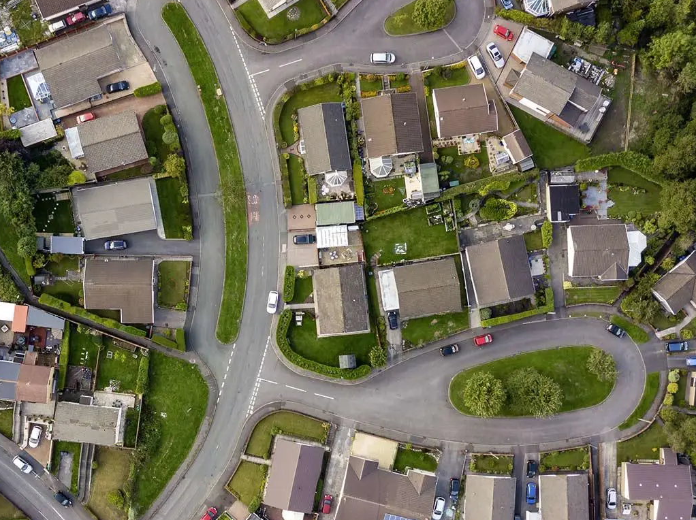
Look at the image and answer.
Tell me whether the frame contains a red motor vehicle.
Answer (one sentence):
Yes, this view includes a red motor vehicle.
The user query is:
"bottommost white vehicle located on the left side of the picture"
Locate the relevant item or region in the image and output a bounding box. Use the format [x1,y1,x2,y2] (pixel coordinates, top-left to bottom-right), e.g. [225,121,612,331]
[11,453,34,473]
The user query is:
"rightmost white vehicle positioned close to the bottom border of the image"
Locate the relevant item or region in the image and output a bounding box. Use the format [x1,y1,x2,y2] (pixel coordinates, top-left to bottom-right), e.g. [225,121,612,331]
[606,486,619,509]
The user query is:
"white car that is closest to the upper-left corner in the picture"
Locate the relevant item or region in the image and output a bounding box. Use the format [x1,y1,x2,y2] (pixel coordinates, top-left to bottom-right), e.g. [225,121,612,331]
[47,18,66,34]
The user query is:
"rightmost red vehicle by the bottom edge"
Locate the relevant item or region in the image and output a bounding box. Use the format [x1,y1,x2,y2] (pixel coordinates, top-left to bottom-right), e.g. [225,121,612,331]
[320,492,333,514]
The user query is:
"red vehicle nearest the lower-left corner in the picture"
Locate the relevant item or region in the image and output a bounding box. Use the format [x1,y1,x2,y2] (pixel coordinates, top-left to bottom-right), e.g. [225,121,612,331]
[199,503,219,520]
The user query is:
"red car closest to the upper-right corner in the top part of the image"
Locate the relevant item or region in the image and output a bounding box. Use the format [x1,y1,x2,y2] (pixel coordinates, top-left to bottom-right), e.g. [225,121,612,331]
[492,22,514,40]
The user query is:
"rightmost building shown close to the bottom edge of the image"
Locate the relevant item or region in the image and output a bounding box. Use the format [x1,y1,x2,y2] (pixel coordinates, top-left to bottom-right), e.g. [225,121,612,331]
[619,447,696,520]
